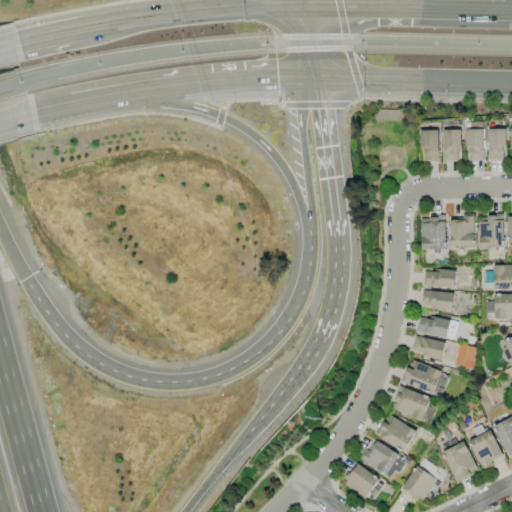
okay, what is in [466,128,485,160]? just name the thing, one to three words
house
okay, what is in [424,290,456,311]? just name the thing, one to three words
house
